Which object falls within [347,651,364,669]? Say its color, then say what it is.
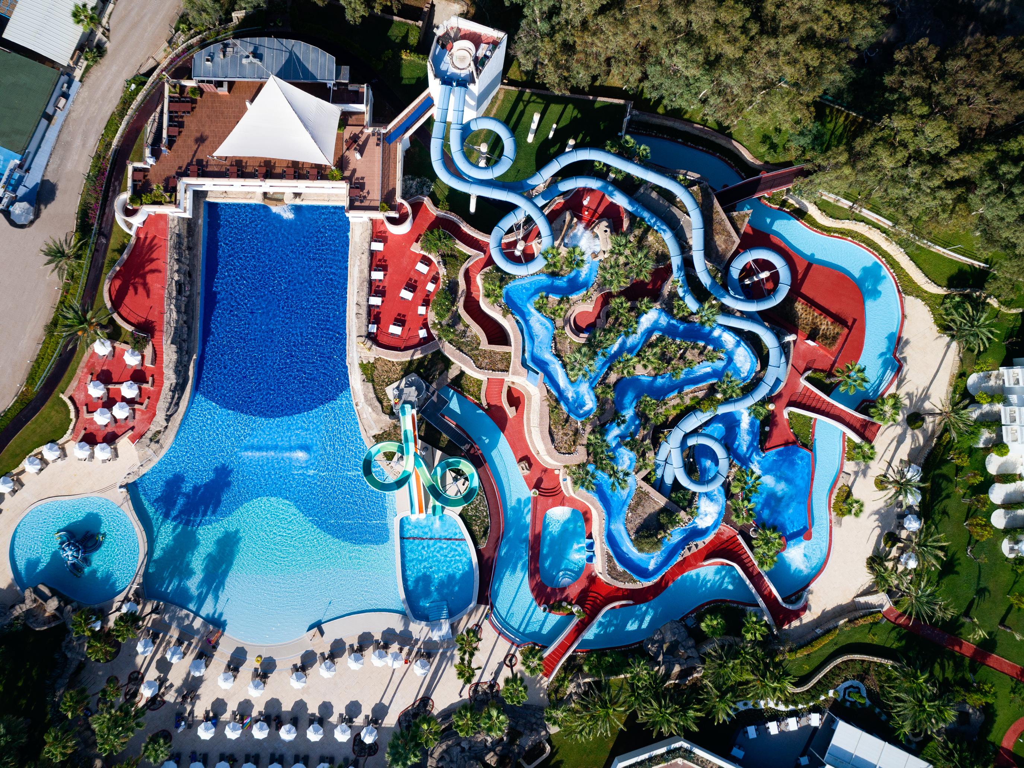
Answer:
white umbrella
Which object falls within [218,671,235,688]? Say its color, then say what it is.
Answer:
white umbrella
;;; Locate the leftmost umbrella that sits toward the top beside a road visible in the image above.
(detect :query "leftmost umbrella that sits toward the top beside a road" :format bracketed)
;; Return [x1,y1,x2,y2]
[12,202,36,226]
